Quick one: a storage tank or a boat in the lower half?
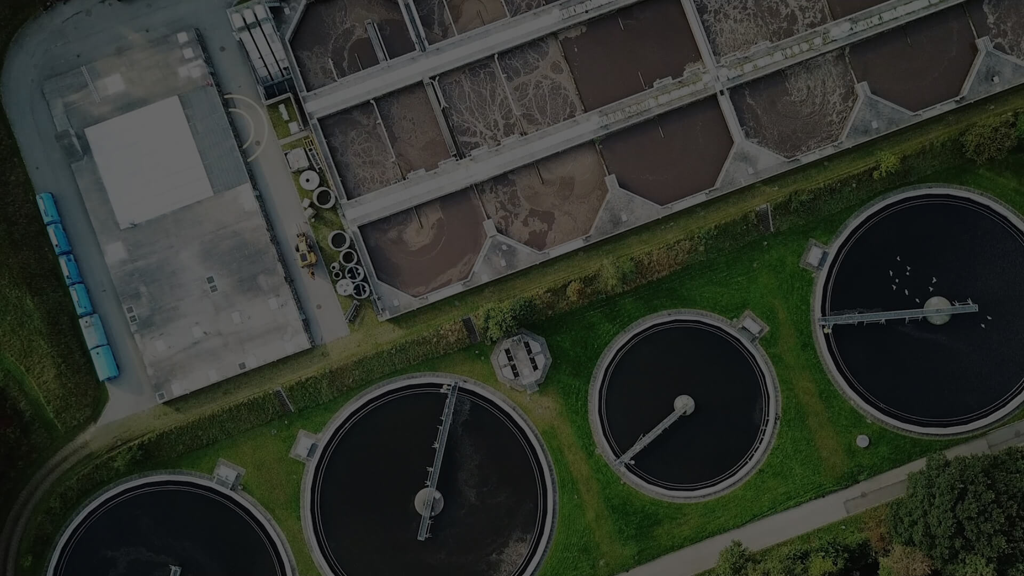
storage tank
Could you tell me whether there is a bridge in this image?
Yes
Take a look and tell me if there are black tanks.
Yes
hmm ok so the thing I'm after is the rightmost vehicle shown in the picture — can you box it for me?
[293,220,321,275]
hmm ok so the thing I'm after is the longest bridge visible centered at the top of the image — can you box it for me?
[423,78,458,157]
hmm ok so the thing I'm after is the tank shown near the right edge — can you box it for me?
[801,183,1024,438]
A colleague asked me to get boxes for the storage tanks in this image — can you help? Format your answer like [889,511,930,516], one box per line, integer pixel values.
[801,183,1024,438]
[587,308,781,502]
[50,463,298,576]
[293,371,559,576]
